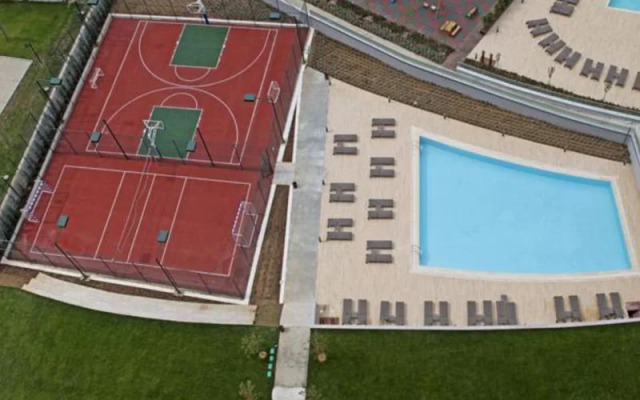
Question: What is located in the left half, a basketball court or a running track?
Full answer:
There is a basketball court in the left half.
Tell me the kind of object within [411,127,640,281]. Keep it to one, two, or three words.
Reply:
swimming pool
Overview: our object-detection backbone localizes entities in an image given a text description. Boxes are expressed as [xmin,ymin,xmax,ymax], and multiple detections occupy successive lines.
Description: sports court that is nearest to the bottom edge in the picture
[9,152,277,298]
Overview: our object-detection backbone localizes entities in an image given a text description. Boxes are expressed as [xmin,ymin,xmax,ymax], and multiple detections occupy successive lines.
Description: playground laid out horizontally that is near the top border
[358,0,498,49]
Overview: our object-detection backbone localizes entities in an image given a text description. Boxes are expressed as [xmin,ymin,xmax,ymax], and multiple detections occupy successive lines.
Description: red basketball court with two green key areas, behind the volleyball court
[54,17,309,172]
